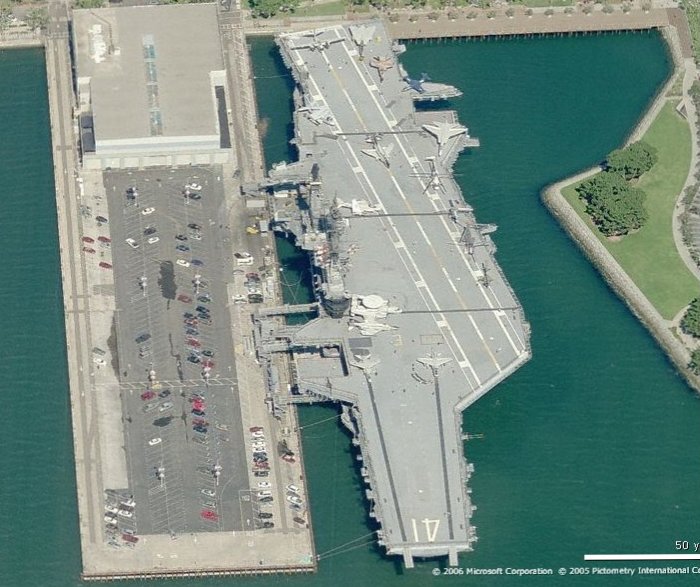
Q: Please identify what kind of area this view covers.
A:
port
